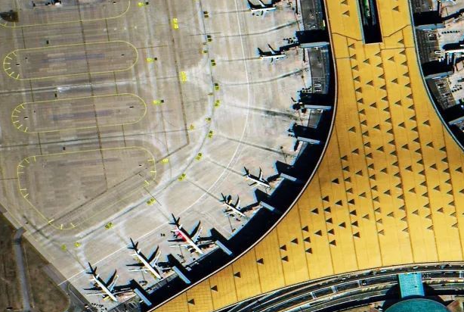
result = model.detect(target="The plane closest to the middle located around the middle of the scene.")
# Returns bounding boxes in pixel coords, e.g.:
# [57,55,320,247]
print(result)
[246,169,271,190]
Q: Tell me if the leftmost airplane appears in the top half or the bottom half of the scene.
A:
bottom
